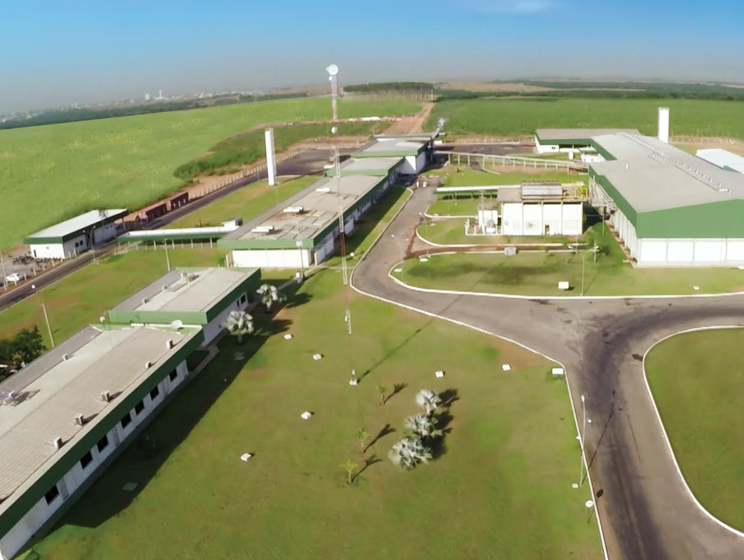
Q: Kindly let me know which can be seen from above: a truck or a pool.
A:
truck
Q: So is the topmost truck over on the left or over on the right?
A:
left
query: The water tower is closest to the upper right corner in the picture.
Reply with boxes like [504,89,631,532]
[658,108,670,142]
